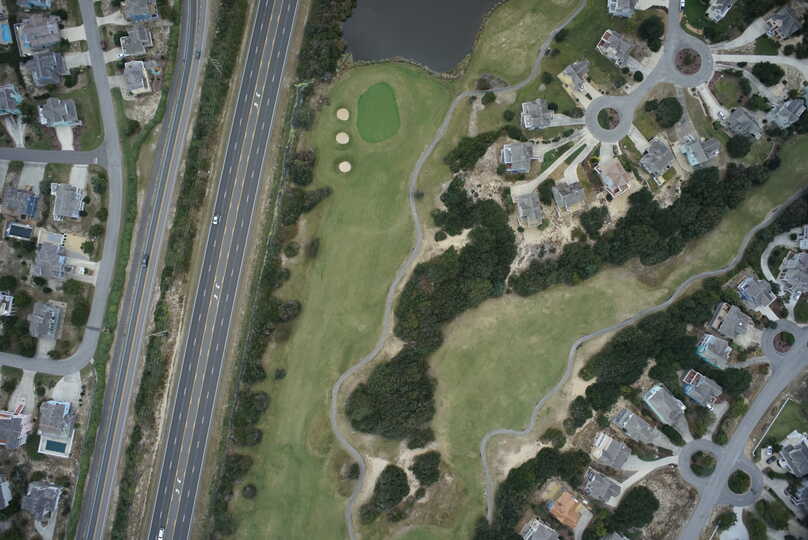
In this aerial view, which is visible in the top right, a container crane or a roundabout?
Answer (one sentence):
There is a roundabout in the top right.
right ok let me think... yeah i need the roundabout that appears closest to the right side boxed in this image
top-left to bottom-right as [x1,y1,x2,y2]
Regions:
[761,319,806,363]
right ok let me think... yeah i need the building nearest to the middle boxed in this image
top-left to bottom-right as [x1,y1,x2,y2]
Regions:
[517,192,544,231]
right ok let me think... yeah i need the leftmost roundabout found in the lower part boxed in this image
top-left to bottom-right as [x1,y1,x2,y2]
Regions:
[679,439,728,489]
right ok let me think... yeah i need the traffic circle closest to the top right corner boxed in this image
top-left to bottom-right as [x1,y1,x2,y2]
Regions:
[664,36,713,85]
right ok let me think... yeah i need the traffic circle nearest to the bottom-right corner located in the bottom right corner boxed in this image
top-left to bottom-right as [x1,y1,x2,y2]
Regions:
[715,458,763,506]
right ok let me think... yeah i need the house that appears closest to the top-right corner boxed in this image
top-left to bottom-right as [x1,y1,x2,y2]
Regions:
[765,3,808,42]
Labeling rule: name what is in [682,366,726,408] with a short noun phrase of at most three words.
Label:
house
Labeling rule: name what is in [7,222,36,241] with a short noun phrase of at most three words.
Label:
swimming pool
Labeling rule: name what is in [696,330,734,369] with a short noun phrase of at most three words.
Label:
house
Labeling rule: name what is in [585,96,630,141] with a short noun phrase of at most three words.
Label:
roundabout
